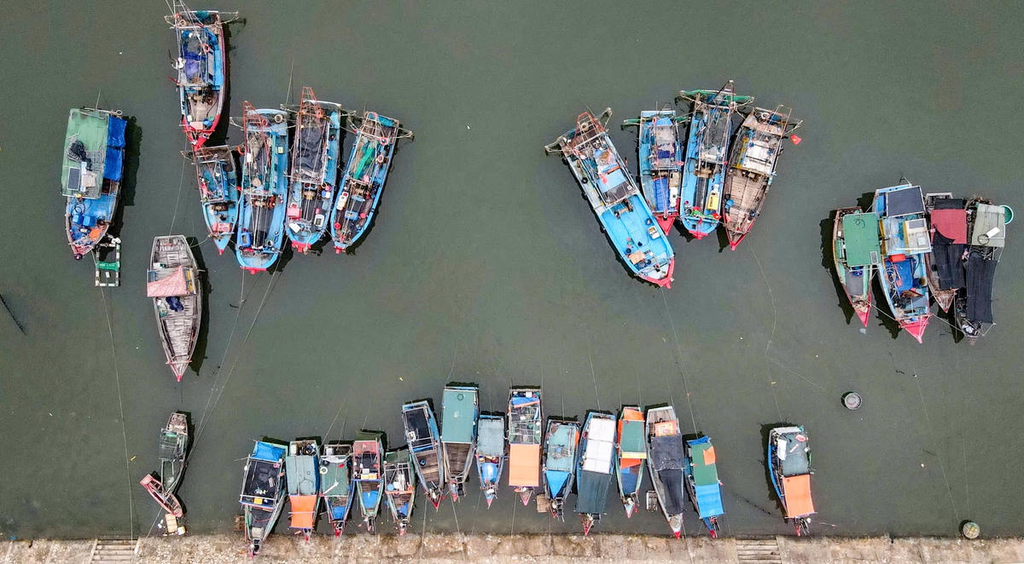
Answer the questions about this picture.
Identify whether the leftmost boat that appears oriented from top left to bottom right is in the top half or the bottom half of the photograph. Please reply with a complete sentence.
The leftmost boat that appears oriented from top left to bottom right is in the bottom half of the image.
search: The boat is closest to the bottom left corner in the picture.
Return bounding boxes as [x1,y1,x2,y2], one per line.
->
[139,474,183,520]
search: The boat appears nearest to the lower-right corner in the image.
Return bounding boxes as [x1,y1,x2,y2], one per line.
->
[959,520,979,539]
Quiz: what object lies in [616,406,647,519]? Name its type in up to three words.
boat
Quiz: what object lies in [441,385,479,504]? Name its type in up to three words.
boat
